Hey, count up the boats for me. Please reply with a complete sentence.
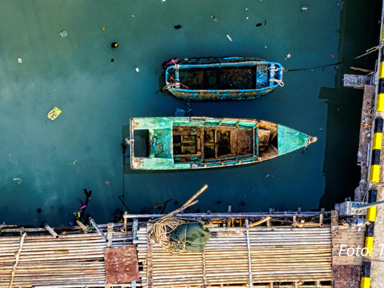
The photo contains 2 boats.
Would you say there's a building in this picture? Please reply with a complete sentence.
No, the scene contains no building.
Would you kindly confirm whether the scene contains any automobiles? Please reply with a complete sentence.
No, there is no automobile in the image.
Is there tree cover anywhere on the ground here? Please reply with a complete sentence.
No, the scene doesn't show any tree cover.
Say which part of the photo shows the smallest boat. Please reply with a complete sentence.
Look in the top portion of the view to spot the smallest boat.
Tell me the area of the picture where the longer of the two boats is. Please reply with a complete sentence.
The longer of the two boats is in the center part of the image.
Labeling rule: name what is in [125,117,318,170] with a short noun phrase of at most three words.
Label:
boat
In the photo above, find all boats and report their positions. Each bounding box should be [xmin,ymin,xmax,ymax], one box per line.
[125,117,318,170]
[162,54,284,103]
